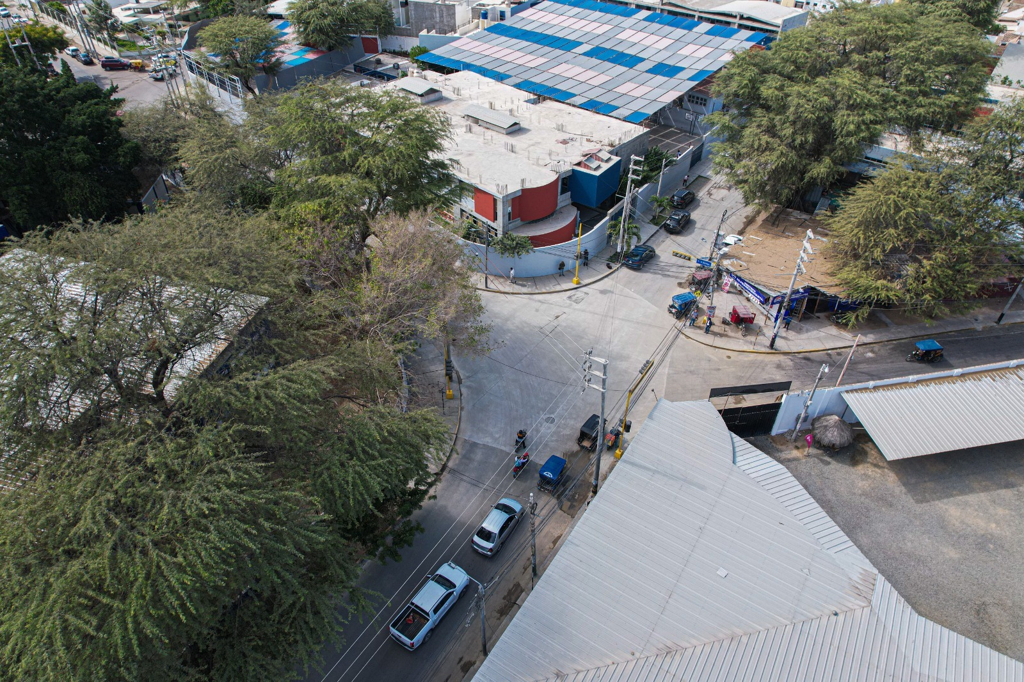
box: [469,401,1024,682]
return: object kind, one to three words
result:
shed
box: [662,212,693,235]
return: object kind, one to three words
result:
car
